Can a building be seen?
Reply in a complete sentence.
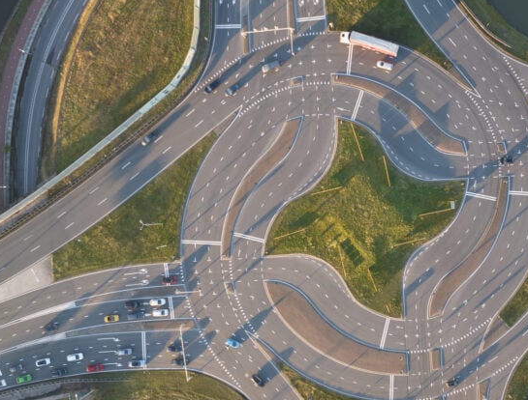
No, there's no building here.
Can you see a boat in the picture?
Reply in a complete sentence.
No, there is no boat in the image.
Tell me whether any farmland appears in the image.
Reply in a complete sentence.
No, the scene doesn't show any farmland.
